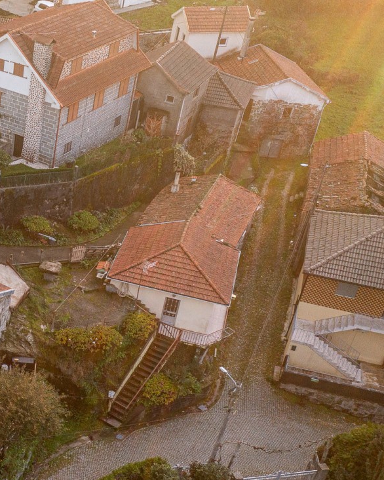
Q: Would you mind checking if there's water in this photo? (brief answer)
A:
No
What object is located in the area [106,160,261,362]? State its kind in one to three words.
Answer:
house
